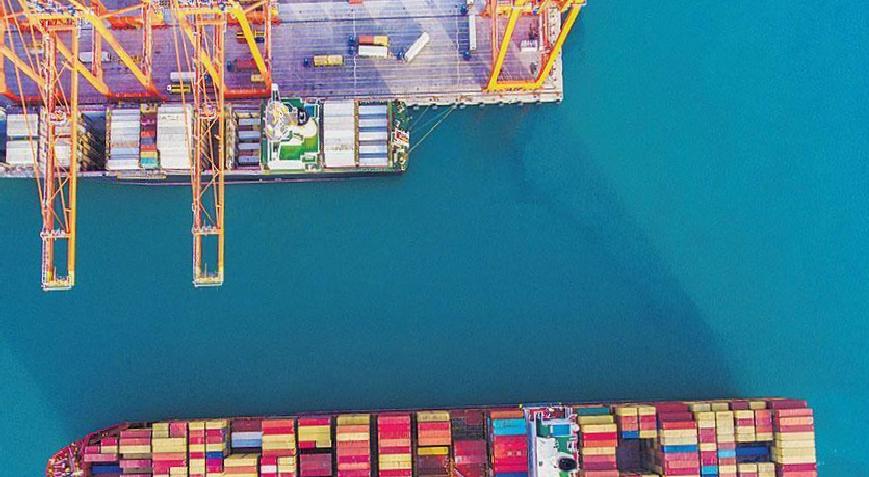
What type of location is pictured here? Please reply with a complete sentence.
What you see here is a port.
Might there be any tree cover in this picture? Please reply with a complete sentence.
No, the picture contains no tree cover.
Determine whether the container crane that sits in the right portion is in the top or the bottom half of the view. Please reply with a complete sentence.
It is in the top half that the container crane that sits in the right portion appears.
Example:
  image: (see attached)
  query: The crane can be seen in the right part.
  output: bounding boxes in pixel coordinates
[482,0,582,89]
